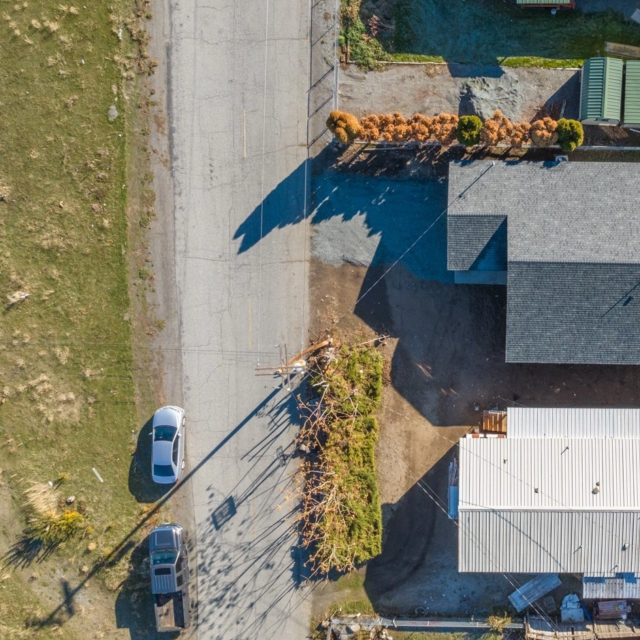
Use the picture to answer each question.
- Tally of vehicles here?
2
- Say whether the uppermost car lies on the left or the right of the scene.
left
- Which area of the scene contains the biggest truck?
bottom left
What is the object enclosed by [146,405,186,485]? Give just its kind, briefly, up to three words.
car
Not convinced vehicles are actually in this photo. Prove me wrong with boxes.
[144,521,190,631]
[146,405,186,485]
